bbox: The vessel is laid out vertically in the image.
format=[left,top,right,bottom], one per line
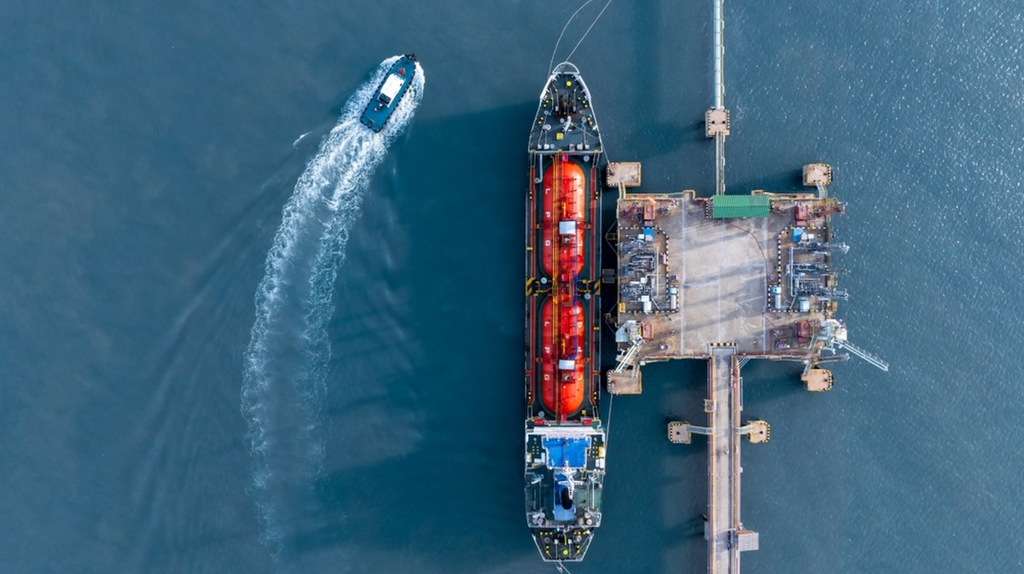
[524,61,606,561]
